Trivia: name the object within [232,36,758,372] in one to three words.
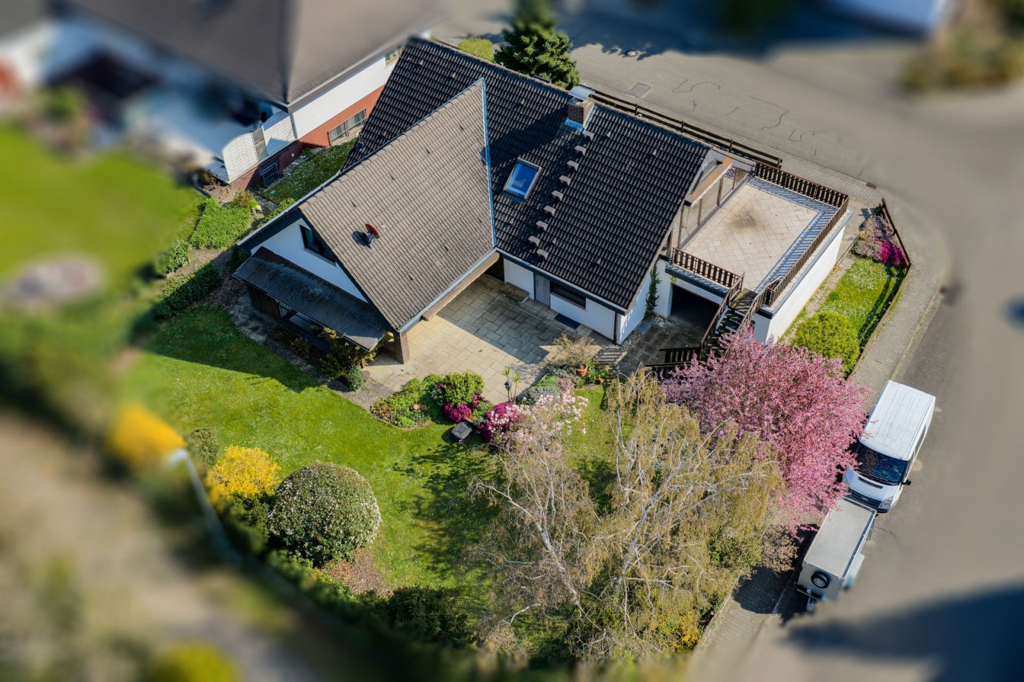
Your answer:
house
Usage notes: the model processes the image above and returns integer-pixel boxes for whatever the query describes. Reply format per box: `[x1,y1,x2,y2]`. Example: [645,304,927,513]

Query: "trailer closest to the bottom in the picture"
[790,492,874,623]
